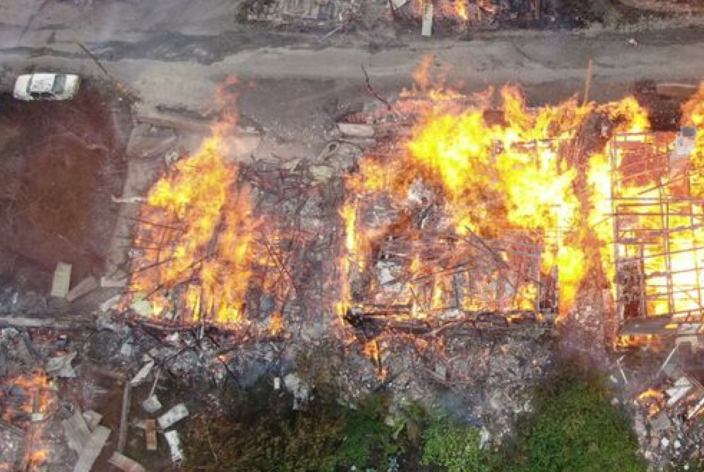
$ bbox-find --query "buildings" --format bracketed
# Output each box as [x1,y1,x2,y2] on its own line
[336,128,588,333]
[606,124,704,353]
[120,170,344,343]
[442,0,532,41]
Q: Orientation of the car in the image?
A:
from side to side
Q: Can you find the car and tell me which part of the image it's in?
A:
top left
